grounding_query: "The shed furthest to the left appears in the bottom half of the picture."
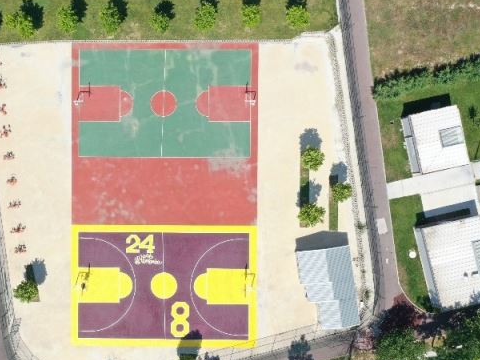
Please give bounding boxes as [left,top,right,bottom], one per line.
[294,245,361,328]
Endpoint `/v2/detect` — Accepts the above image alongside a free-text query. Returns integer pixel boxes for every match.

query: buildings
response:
[402,105,470,174]
[412,214,480,309]
[294,245,361,328]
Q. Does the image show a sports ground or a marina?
sports ground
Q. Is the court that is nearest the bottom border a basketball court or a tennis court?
basketball court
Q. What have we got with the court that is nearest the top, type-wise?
basketball court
